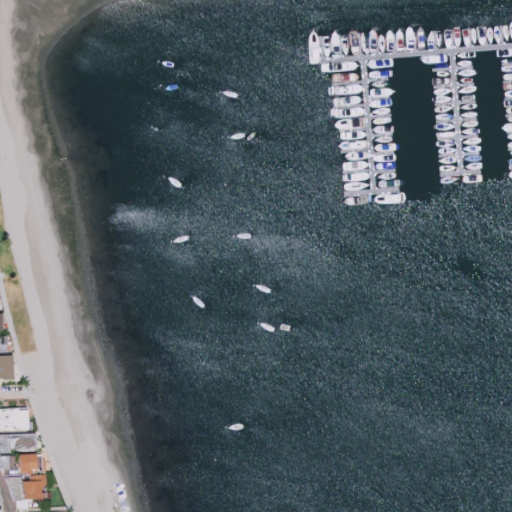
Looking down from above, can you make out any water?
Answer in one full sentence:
Yes, the picture does contain water.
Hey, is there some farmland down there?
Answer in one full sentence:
No, there is no farmland in the image.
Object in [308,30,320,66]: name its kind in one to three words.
boat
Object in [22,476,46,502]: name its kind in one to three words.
house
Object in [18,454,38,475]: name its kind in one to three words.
house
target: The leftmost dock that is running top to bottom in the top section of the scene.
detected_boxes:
[333,60,396,190]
